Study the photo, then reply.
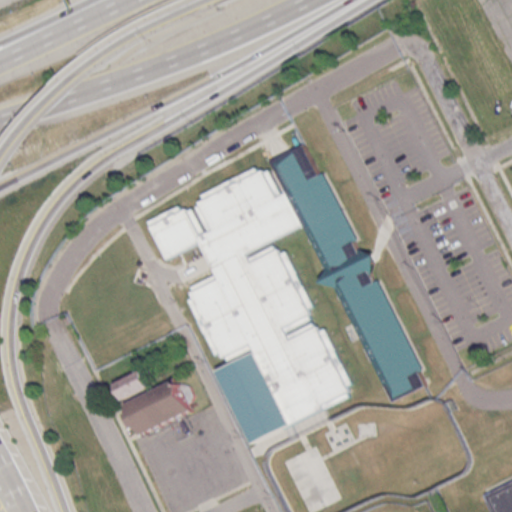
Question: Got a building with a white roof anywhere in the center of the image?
Yes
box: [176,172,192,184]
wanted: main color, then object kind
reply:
white vehicle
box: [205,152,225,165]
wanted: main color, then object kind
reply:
white vehicle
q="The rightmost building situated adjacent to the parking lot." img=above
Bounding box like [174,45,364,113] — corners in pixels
[271,146,428,402]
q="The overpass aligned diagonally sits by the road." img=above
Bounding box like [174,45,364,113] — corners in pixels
[0,0,236,182]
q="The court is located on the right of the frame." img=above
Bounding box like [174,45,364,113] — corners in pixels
[286,448,342,512]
